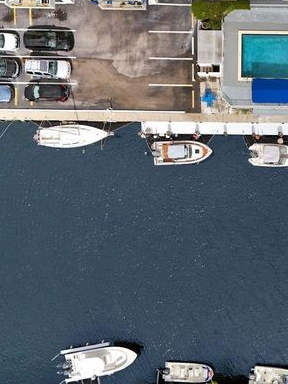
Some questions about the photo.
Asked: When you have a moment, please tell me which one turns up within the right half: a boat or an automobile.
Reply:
boat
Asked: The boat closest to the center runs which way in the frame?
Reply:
horizontally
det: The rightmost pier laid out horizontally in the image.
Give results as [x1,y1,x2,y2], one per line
[254,124,282,136]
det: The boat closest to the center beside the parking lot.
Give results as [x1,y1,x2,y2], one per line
[150,139,212,166]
